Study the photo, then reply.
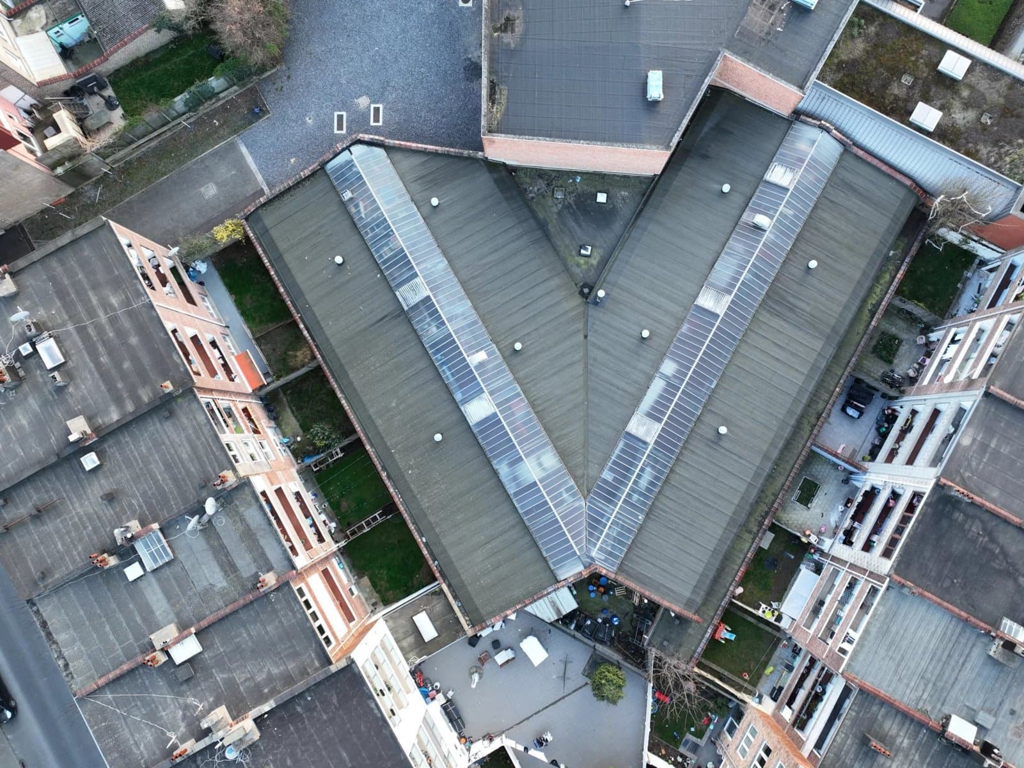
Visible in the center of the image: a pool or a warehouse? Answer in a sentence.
You can see a warehouse in the center of the image.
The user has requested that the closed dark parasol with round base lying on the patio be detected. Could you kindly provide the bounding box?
[87,82,118,109]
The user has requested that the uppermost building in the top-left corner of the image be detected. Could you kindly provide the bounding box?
[0,0,186,89]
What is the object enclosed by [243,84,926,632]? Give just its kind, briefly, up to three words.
warehouse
